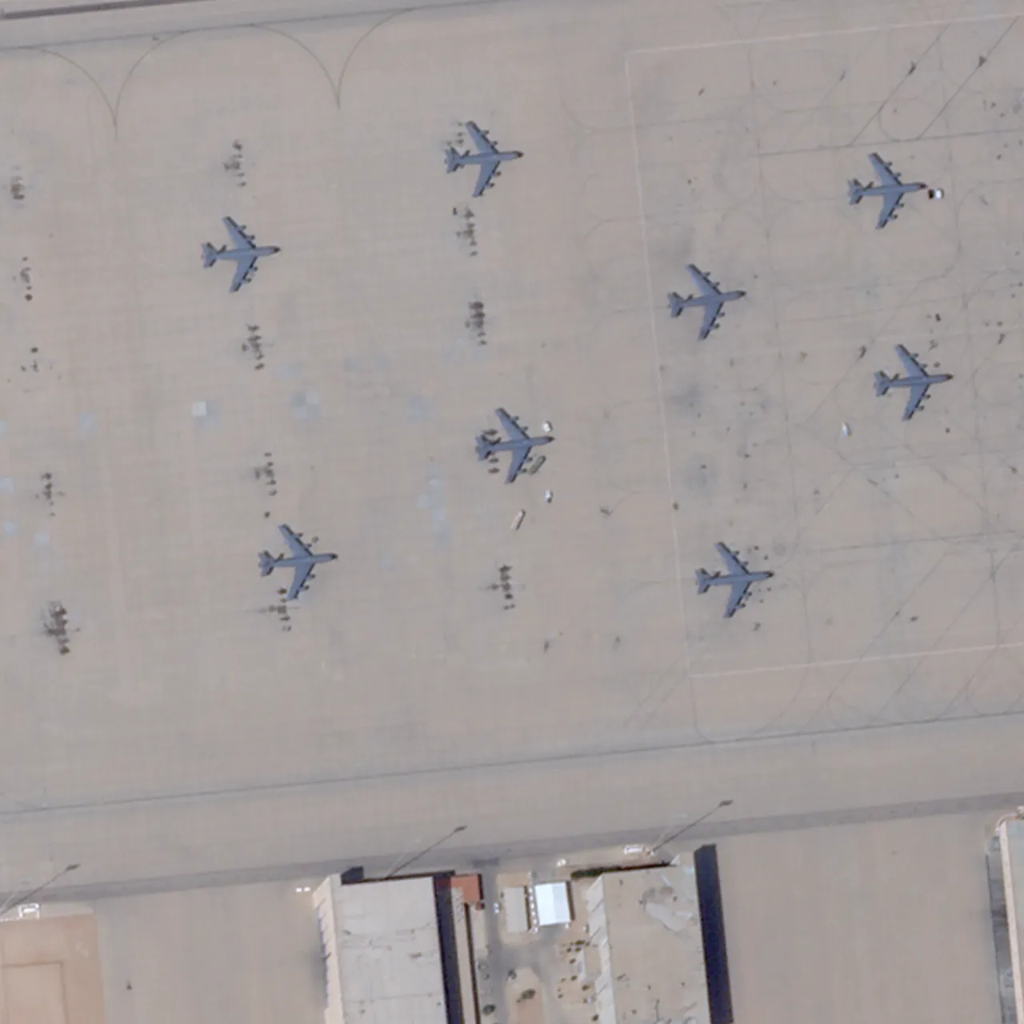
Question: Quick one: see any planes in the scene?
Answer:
Yes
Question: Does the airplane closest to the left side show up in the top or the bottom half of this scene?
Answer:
top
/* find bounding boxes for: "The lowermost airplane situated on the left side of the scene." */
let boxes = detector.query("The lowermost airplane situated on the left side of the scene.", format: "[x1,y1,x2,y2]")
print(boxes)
[260,525,335,600]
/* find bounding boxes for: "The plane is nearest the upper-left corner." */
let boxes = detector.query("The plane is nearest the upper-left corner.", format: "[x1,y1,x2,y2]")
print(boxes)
[203,217,278,292]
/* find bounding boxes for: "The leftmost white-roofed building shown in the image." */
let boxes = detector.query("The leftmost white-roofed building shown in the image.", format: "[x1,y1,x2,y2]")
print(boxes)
[311,875,448,1024]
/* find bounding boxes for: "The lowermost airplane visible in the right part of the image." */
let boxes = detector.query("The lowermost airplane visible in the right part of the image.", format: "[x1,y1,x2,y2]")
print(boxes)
[696,542,771,617]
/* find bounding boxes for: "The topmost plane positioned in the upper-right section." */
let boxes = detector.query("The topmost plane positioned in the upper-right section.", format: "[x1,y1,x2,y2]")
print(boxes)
[850,154,924,229]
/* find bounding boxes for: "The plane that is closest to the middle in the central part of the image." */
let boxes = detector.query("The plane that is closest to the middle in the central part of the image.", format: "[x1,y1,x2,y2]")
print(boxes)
[476,408,551,483]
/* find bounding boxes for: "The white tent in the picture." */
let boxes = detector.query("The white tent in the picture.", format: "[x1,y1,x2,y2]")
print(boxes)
[534,882,571,927]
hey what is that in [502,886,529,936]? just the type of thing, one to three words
shed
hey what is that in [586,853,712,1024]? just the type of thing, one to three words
hangar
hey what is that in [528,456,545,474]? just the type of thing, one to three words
vehicle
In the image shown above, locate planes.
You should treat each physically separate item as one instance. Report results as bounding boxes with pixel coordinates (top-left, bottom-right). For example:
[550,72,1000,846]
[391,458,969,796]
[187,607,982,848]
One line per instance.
[876,345,950,420]
[260,525,335,600]
[203,217,278,292]
[850,154,924,229]
[696,542,771,617]
[669,264,744,339]
[476,408,551,483]
[446,123,520,198]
